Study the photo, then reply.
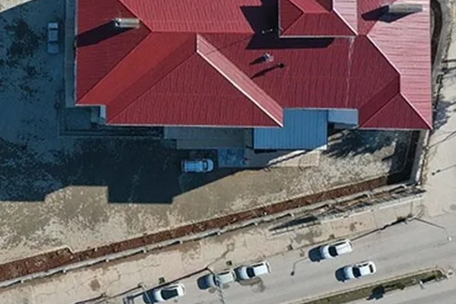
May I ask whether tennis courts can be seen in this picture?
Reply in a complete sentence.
No, no tennis court can be seen from above.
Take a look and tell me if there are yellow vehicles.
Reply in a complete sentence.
No, there's no yellow vehicle here.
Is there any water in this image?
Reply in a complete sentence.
No, there is no water in the image.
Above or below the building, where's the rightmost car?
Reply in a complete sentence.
From this view, the rightmost car can be seen below the building.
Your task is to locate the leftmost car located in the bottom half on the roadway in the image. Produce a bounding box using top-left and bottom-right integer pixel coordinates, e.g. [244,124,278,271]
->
[152,281,185,302]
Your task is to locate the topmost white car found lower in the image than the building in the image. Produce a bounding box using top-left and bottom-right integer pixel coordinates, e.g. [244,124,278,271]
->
[320,239,353,258]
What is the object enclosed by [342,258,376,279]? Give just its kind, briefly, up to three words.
car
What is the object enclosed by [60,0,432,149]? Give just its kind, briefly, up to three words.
building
